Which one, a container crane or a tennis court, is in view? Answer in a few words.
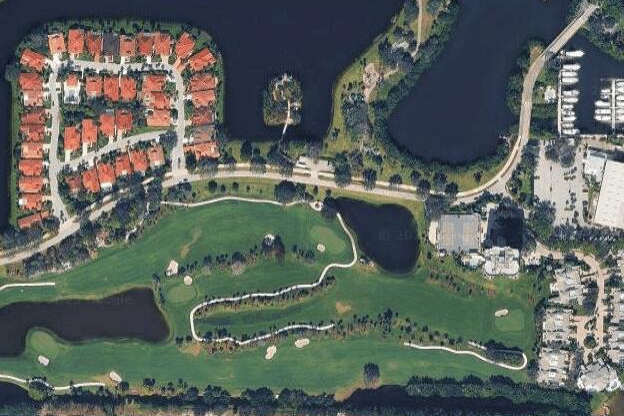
tennis court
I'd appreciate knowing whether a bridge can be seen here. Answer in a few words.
Yes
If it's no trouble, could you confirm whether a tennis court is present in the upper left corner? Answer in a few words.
No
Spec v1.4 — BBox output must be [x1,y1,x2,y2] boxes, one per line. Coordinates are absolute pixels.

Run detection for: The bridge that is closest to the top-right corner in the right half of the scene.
[543,4,593,55]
